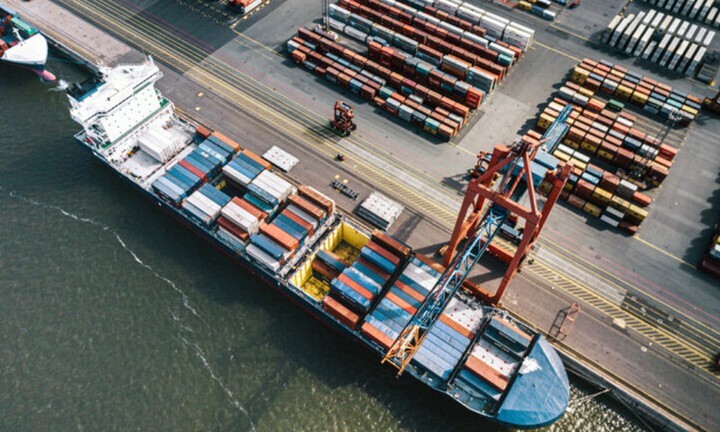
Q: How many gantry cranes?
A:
one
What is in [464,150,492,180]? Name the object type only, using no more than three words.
work vehicle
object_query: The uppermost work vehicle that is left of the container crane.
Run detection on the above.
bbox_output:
[330,100,355,134]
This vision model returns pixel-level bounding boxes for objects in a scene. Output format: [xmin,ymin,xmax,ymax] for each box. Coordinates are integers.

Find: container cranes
[382,102,576,372]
